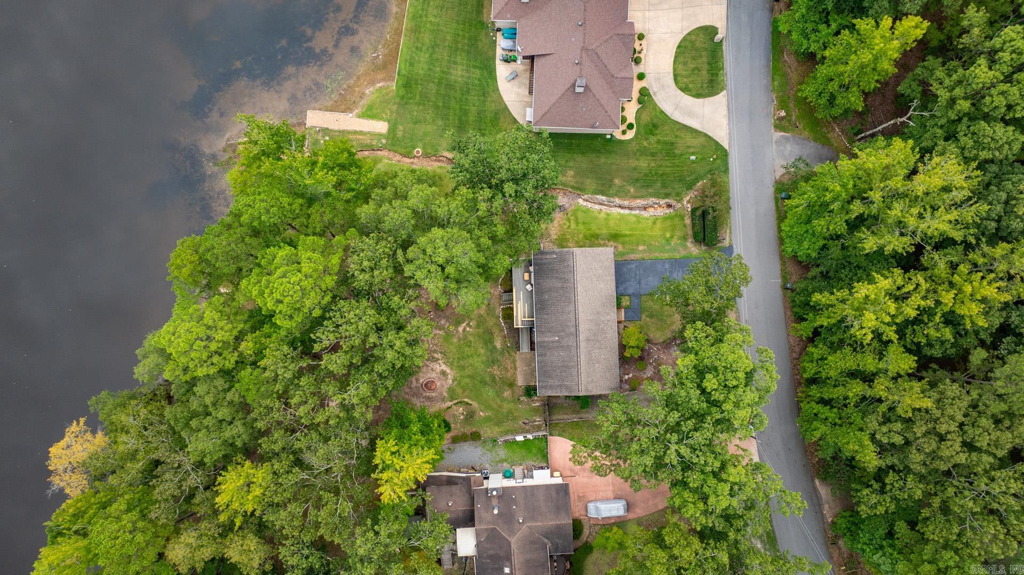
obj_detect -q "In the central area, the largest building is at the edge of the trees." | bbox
[517,247,620,396]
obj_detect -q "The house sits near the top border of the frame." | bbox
[492,0,635,135]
